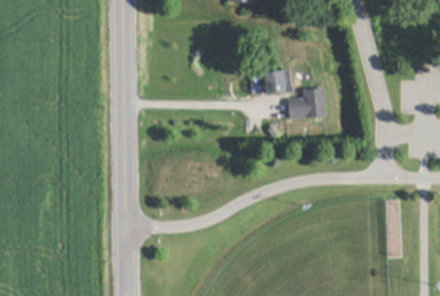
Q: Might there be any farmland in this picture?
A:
Yes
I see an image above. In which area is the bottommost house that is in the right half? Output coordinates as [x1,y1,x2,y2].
[288,86,326,120]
